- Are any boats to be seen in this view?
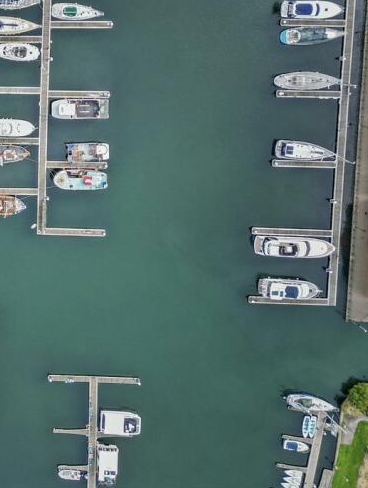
Yes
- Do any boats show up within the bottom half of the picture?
Yes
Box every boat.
[279,0,346,19]
[52,98,110,120]
[58,469,91,481]
[285,394,354,446]
[96,442,120,487]
[256,277,319,301]
[48,3,104,22]
[0,118,35,137]
[253,235,336,259]
[0,194,26,219]
[273,71,343,90]
[99,410,141,441]
[0,145,33,165]
[279,25,346,45]
[0,0,40,10]
[61,142,110,162]
[303,416,311,438]
[273,140,347,164]
[0,16,41,36]
[0,41,42,61]
[54,169,108,191]
[282,439,310,453]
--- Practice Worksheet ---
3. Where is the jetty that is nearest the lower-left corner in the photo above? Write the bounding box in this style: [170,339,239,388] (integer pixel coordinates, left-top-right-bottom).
[48,374,141,488]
